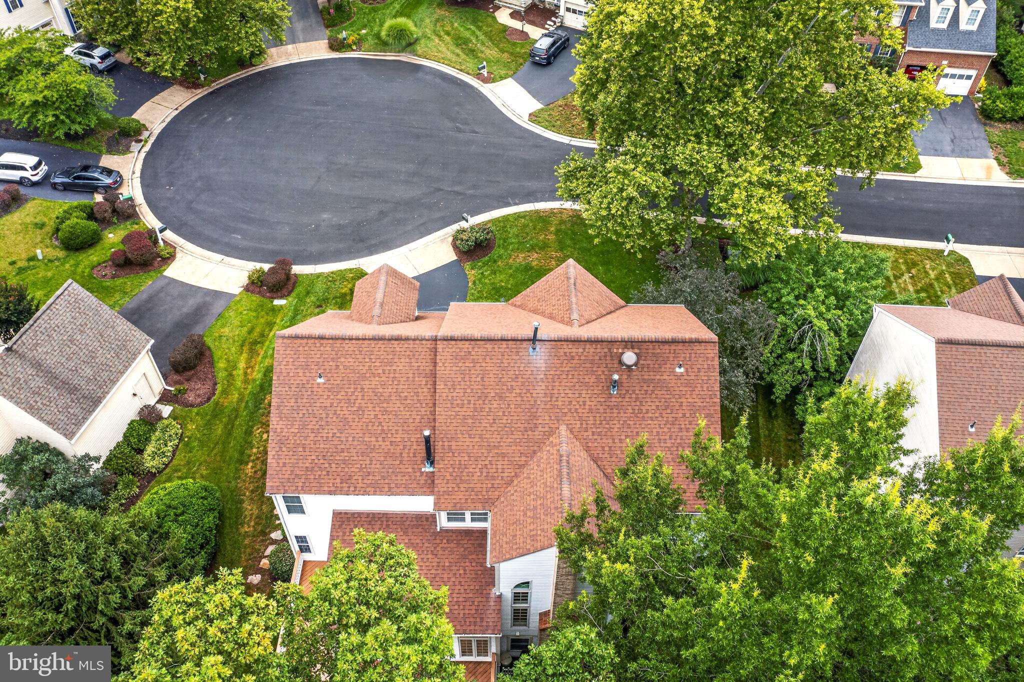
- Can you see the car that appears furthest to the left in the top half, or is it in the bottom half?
top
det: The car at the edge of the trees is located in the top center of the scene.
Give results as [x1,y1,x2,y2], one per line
[532,33,567,63]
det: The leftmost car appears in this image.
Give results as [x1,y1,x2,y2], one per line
[0,151,46,187]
